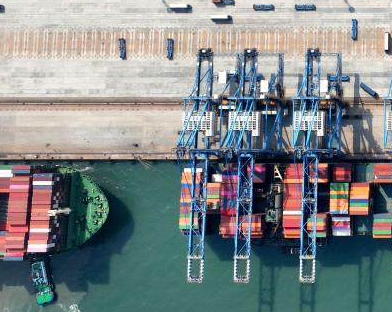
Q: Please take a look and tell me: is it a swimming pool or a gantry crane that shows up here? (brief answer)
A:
gantry crane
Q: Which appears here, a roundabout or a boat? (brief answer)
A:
boat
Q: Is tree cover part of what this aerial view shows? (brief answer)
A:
No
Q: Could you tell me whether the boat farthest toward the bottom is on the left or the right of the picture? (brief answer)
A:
left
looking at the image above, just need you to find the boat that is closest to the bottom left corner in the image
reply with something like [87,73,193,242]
[34,257,59,307]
